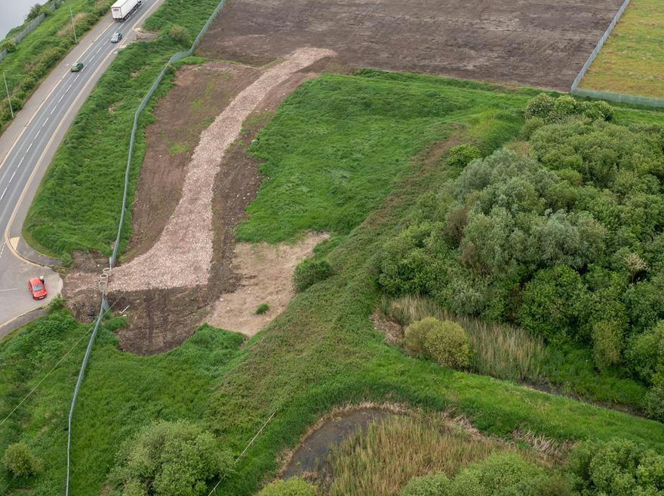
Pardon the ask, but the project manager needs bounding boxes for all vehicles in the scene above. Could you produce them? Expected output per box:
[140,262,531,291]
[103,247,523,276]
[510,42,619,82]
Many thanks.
[70,58,82,69]
[29,274,47,297]
[110,32,122,41]
[111,0,139,19]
